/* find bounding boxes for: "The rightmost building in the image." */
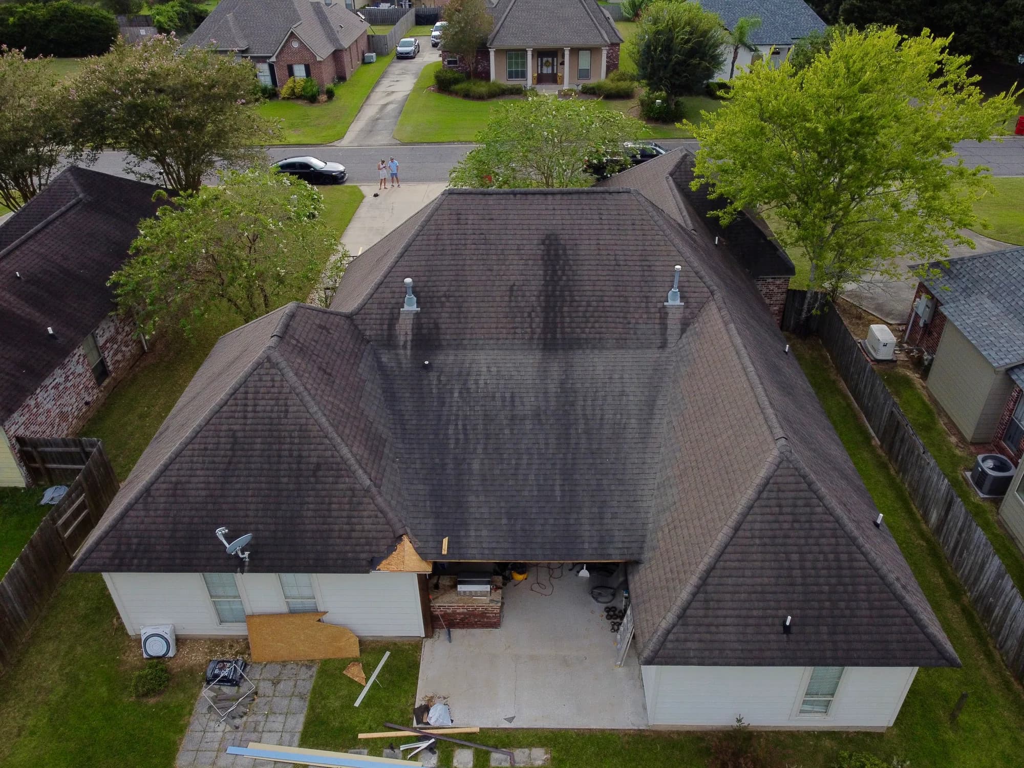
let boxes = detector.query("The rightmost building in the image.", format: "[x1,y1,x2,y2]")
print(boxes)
[893,261,1024,554]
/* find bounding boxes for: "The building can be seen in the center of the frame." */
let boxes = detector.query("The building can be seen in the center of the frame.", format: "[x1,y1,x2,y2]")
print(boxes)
[73,147,963,731]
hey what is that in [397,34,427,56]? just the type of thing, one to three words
car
